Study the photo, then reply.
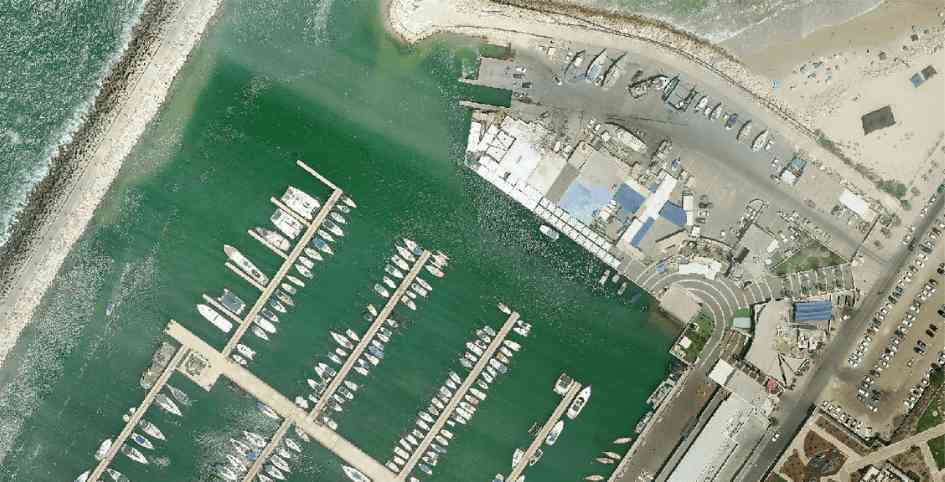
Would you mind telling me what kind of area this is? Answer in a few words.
port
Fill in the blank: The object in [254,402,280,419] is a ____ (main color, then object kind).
white boat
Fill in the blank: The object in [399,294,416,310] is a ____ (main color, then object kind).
white boat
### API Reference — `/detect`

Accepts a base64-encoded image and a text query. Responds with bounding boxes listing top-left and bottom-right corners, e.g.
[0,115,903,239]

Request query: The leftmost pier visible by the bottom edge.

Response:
[88,349,186,482]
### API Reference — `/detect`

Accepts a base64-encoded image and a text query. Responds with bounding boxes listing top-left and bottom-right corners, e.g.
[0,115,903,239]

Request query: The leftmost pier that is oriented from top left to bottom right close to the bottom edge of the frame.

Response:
[165,319,403,482]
